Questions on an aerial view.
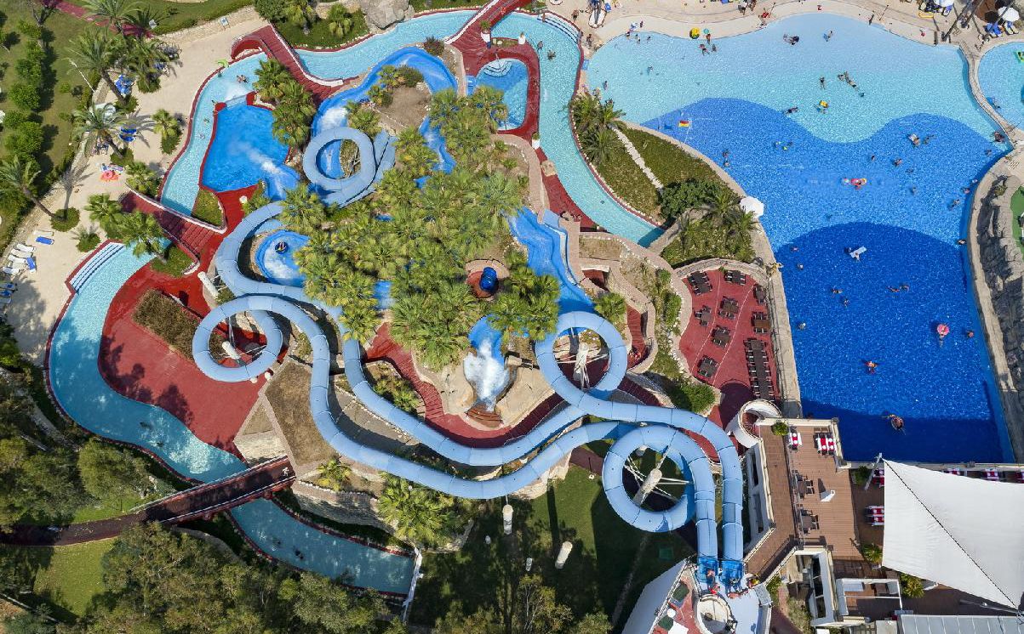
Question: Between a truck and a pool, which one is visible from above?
pool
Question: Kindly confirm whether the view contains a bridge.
Yes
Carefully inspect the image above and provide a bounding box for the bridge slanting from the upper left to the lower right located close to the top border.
[230,22,343,112]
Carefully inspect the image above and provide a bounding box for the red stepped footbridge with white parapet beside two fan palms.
[121,179,227,272]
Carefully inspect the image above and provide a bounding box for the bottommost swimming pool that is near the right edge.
[775,222,1002,466]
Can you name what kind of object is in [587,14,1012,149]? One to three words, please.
swimming pool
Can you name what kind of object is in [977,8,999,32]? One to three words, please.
umbrella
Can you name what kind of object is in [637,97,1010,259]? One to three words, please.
swimming pool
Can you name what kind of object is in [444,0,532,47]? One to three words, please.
bridge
